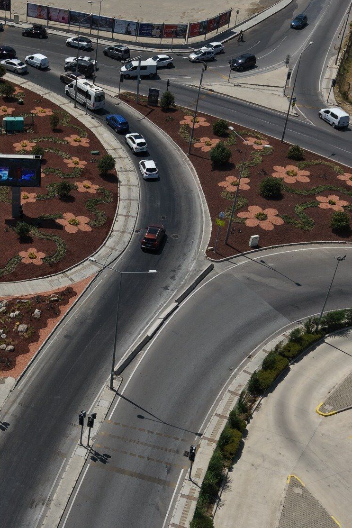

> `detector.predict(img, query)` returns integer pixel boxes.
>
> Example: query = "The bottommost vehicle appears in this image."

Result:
[137,227,167,256]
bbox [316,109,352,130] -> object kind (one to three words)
vehicle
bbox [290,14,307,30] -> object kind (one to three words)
car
